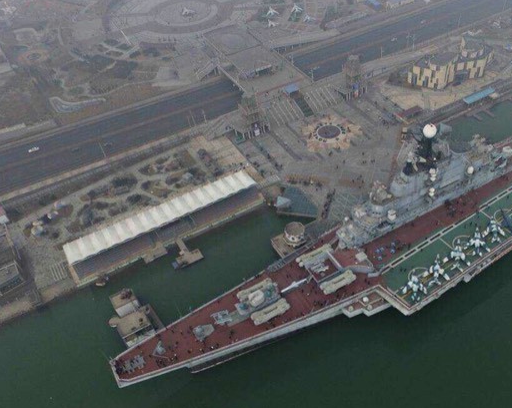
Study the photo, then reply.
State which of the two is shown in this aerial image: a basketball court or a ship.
ship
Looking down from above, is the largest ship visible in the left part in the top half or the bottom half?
bottom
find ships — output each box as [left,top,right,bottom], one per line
[108,288,163,347]
[99,119,512,383]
